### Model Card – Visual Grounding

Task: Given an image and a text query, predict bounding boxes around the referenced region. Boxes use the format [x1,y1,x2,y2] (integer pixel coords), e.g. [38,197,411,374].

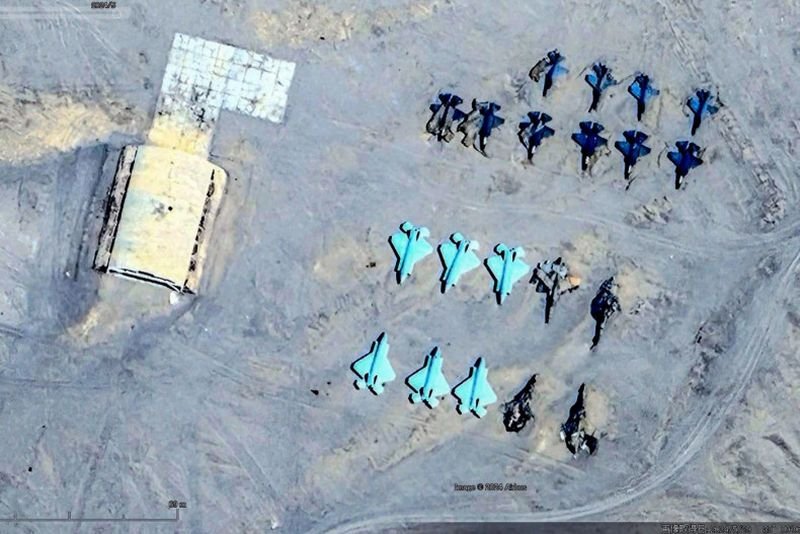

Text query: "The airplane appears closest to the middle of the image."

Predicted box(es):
[392,221,434,282]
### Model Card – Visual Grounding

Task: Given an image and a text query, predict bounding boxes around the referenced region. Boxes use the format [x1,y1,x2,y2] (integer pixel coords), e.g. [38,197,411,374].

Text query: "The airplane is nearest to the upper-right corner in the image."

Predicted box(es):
[684,87,723,134]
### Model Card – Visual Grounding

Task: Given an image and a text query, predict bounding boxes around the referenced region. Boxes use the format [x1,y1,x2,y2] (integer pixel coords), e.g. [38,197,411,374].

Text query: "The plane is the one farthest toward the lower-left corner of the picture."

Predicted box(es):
[352,333,395,393]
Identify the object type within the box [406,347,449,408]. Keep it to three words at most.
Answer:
airplane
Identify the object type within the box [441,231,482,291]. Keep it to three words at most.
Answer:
airplane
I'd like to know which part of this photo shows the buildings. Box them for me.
[92,144,227,294]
